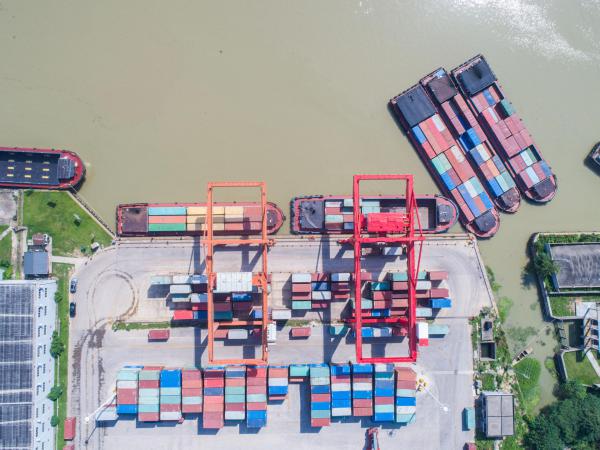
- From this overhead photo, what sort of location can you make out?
port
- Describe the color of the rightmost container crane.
red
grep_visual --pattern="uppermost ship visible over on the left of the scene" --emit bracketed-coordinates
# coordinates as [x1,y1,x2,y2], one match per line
[0,146,87,189]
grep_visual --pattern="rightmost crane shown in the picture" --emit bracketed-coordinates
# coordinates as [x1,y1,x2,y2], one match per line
[336,175,428,362]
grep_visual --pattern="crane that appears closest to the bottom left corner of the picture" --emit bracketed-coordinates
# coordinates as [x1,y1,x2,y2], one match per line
[200,182,282,363]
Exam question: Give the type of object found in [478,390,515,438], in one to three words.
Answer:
building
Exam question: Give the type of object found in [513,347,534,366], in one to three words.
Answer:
boat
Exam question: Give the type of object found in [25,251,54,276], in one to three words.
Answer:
house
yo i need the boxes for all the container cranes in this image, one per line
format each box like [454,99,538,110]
[200,182,282,363]
[336,175,428,362]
